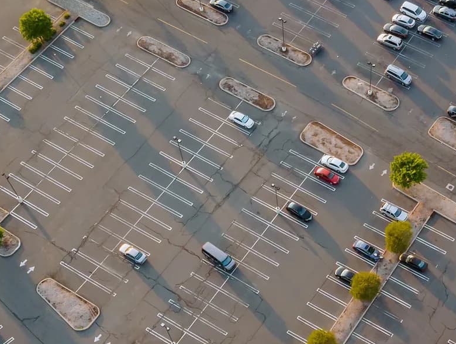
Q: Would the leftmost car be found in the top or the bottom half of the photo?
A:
bottom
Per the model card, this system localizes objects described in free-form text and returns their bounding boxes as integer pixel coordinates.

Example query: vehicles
[378,200,409,223]
[208,0,233,13]
[312,165,342,186]
[377,33,403,50]
[398,1,426,21]
[319,154,349,175]
[383,23,410,39]
[440,0,456,11]
[432,5,456,22]
[383,64,413,84]
[352,239,383,262]
[398,251,430,274]
[415,24,443,41]
[118,243,149,265]
[284,200,314,222]
[201,242,238,271]
[390,13,417,30]
[330,265,354,285]
[227,111,255,130]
